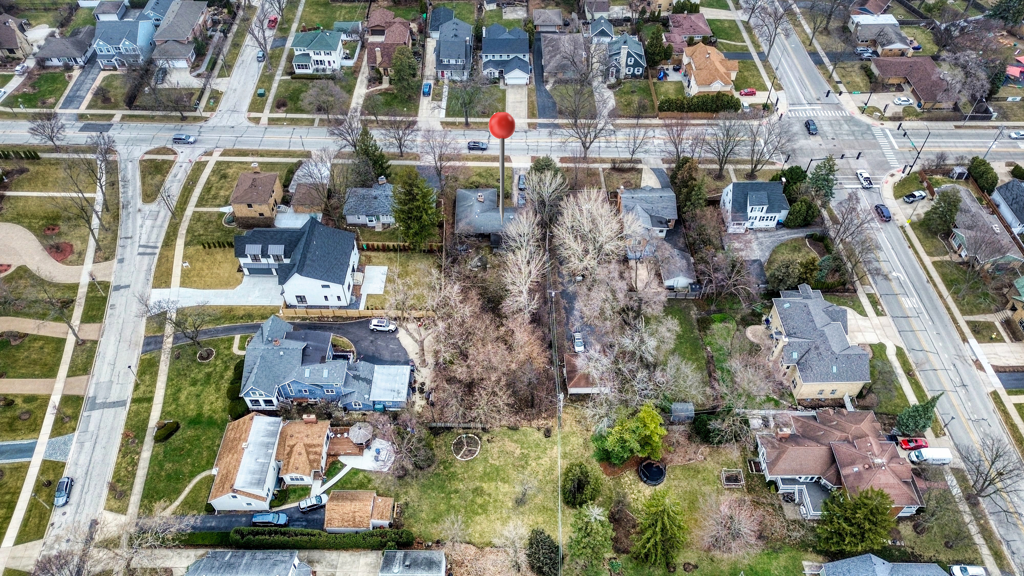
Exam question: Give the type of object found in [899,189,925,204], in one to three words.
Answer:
vehicle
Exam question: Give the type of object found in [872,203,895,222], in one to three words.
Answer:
car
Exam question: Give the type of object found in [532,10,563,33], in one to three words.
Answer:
building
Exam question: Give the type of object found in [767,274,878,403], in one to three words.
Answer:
house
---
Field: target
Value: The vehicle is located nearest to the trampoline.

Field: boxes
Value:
[571,328,587,353]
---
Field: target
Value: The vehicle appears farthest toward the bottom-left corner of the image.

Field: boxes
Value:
[49,474,81,510]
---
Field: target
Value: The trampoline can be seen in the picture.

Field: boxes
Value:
[639,455,668,486]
